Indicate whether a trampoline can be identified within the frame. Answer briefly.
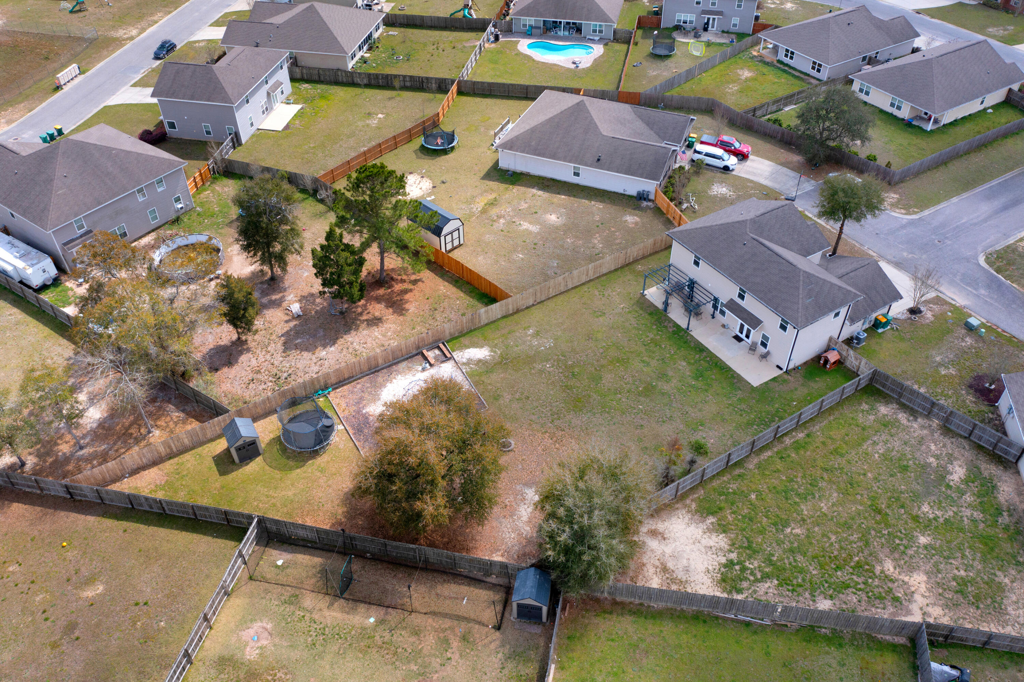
Yes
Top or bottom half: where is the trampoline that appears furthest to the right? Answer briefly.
top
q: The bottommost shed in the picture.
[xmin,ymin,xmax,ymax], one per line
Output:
[511,569,552,624]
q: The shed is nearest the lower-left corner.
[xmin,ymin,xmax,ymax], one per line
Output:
[222,417,265,465]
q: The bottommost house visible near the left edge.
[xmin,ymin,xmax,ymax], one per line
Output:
[0,122,196,271]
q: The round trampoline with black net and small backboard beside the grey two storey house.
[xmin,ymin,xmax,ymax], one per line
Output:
[649,33,677,60]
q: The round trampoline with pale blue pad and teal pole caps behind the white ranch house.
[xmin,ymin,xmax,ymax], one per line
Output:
[424,120,456,154]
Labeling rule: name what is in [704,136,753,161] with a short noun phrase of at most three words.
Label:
vehicle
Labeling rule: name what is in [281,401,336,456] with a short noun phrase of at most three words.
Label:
trampoline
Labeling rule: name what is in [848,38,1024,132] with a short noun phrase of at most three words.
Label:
house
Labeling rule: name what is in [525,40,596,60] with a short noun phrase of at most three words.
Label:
swimming pool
